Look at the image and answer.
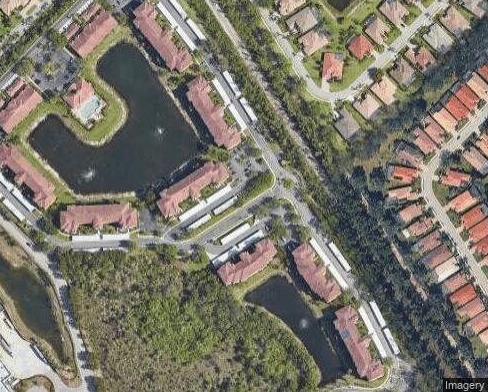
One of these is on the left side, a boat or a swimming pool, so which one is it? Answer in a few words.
swimming pool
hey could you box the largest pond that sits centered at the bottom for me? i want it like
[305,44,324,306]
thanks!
[244,275,343,384]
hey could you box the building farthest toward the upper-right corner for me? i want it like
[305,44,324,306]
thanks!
[457,0,488,19]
